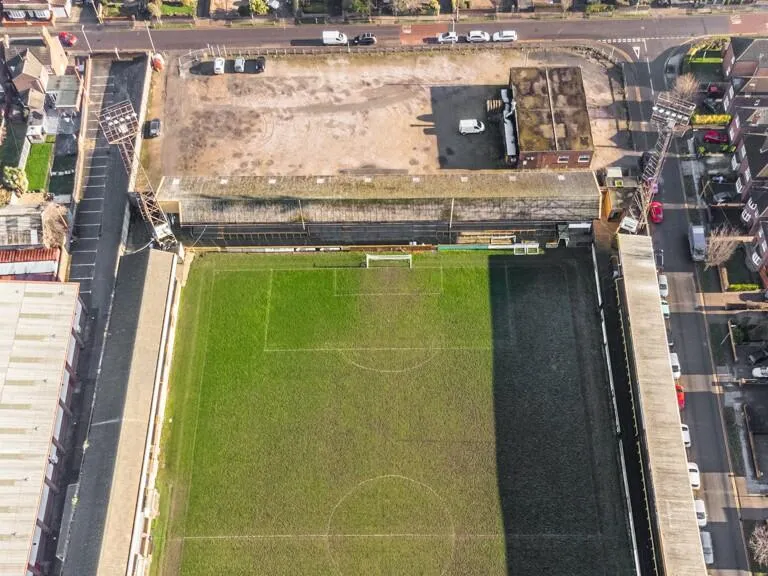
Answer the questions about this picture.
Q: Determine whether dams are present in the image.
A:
No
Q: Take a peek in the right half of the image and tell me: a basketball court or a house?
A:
house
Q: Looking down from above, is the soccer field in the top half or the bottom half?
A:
bottom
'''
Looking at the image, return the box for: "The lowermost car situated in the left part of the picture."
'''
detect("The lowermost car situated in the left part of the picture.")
[148,122,160,138]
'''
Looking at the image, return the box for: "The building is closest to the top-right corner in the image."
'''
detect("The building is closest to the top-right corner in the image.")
[723,33,768,88]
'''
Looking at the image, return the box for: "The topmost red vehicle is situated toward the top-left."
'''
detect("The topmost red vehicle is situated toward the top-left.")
[60,33,78,48]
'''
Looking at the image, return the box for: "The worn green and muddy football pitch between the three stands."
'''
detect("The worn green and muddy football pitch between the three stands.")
[147,246,638,576]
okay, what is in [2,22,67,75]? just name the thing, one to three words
house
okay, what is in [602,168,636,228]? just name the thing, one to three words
shed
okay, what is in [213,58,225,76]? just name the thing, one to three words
vehicle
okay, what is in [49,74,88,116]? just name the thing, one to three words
building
